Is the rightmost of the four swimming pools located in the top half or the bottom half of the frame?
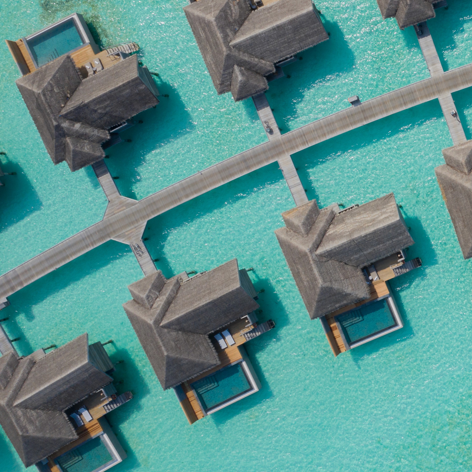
bottom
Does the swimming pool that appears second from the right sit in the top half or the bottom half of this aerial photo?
bottom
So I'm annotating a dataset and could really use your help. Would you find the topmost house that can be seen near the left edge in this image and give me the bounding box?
[4,39,167,175]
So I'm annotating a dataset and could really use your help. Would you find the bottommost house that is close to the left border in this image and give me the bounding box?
[0,329,137,472]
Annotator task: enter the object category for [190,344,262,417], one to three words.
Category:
swimming pool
